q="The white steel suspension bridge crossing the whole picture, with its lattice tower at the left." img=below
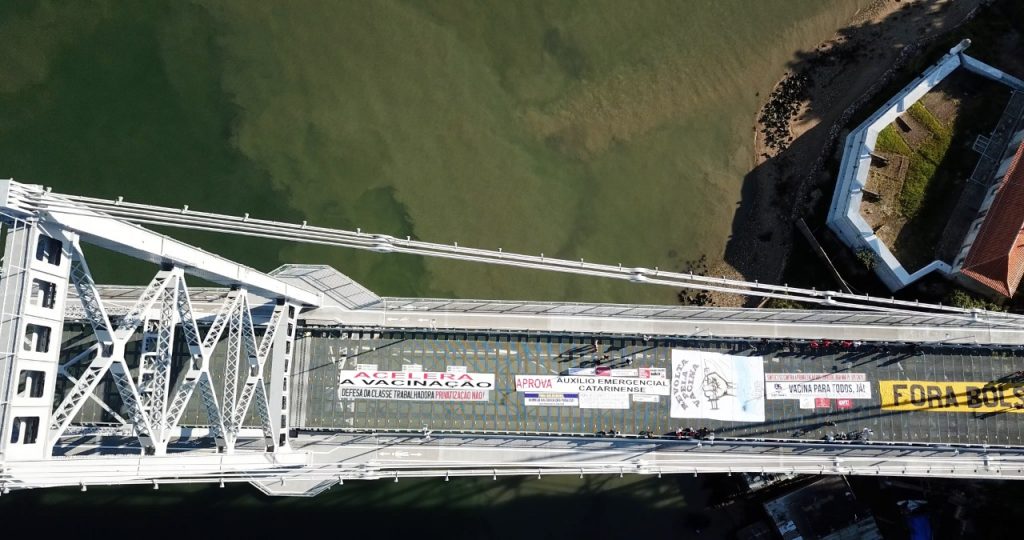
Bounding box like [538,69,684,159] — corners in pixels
[0,172,1024,498]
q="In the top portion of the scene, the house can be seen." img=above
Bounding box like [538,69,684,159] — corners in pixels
[940,123,1024,297]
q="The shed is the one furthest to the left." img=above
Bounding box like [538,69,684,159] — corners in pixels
[757,479,870,540]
